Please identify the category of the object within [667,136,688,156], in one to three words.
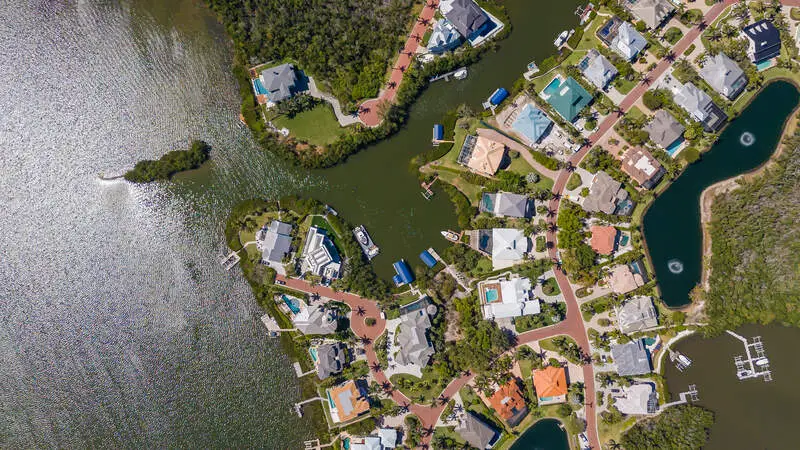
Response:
swimming pool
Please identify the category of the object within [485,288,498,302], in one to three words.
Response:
swimming pool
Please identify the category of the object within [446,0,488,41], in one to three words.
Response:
house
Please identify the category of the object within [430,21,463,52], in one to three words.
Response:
house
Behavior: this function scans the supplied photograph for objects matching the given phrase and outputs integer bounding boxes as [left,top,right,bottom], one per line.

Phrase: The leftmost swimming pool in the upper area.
[254,77,269,97]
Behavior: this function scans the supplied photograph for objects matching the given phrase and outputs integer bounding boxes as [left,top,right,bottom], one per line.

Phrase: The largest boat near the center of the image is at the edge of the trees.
[354,227,379,259]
